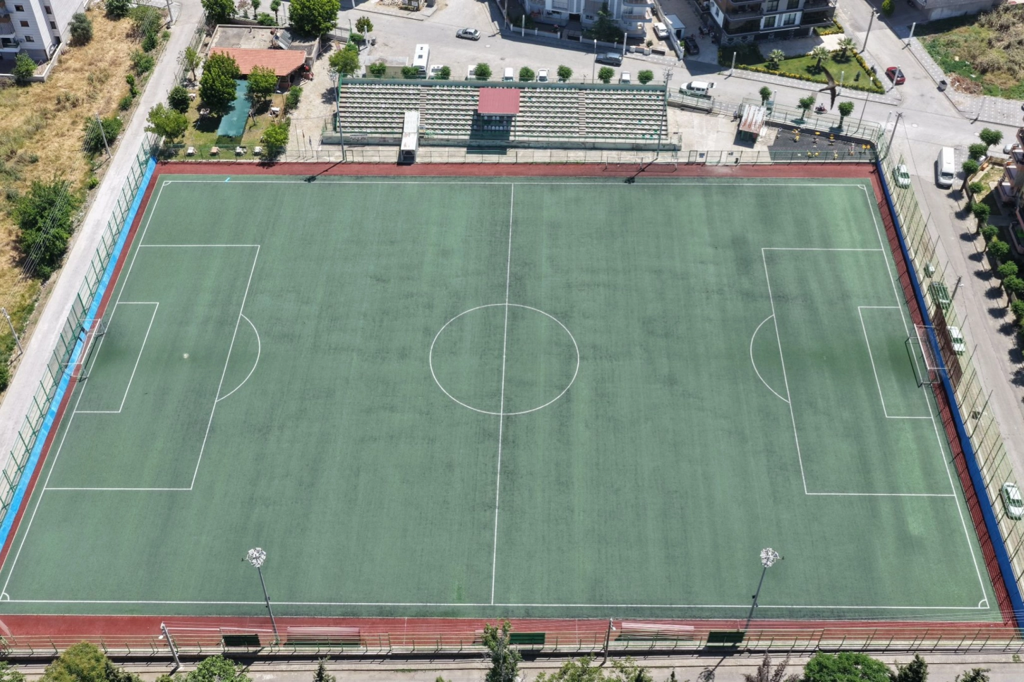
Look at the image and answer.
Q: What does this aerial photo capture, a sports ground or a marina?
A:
sports ground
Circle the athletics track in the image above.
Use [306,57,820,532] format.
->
[0,162,1020,647]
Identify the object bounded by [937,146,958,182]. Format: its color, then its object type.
white vehicle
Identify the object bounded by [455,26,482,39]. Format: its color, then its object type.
gray vehicle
